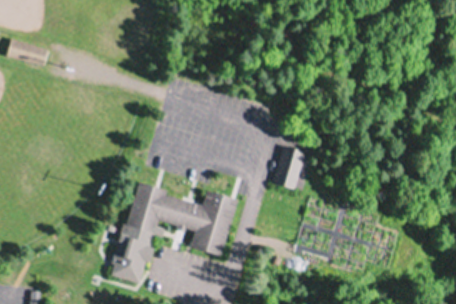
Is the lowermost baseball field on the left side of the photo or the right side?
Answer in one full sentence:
You can find the lowermost baseball field on the left side of the picture.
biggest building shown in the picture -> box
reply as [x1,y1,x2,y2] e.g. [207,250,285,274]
[109,184,238,286]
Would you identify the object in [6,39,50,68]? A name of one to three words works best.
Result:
shed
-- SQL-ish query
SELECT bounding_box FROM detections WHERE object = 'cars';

[190,169,195,178]
[148,280,154,289]
[155,158,160,168]
[156,284,161,292]
[271,160,276,170]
